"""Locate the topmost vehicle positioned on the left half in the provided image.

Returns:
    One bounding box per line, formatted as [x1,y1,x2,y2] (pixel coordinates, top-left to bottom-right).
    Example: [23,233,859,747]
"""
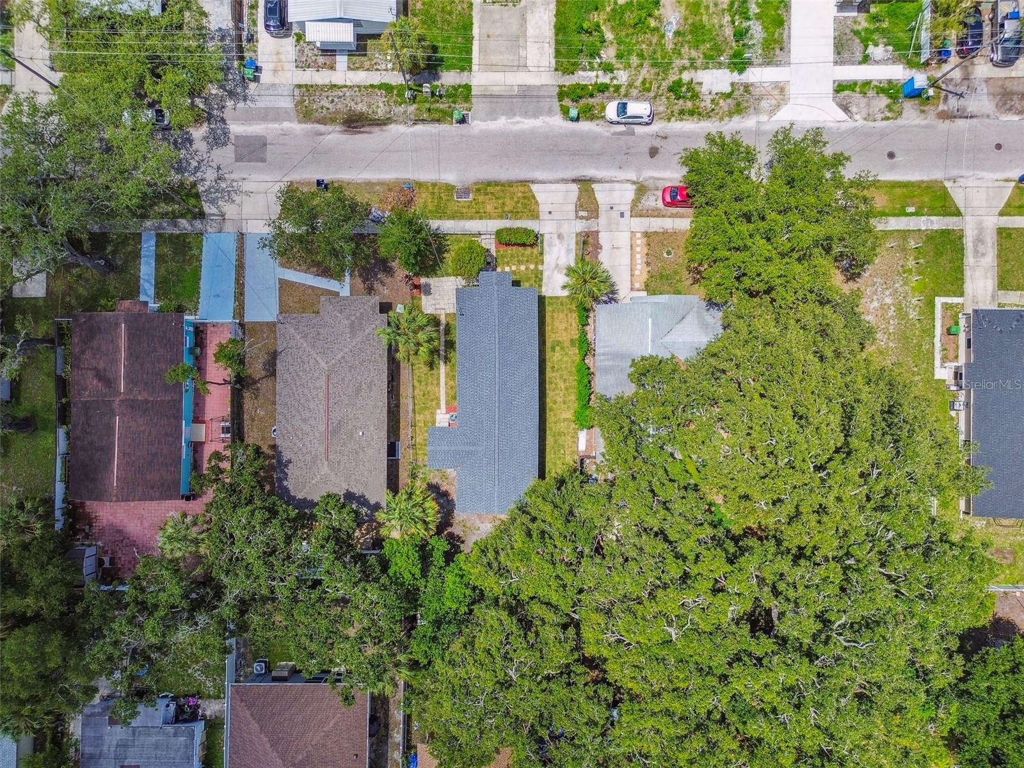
[263,0,288,34]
